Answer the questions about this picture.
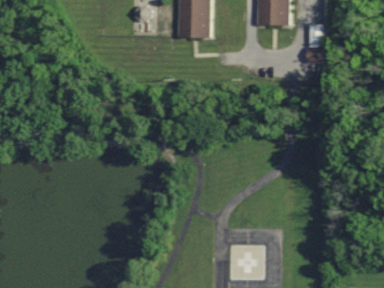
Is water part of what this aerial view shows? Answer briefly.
Yes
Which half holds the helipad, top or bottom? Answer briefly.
bottom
